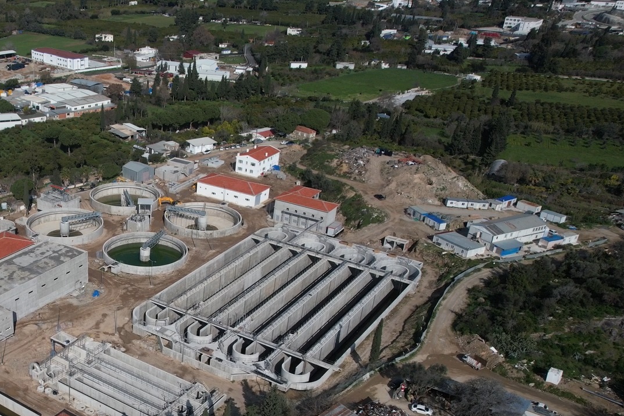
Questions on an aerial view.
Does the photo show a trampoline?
No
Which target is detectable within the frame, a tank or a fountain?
tank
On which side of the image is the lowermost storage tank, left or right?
left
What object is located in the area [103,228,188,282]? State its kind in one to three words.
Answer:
storage tank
